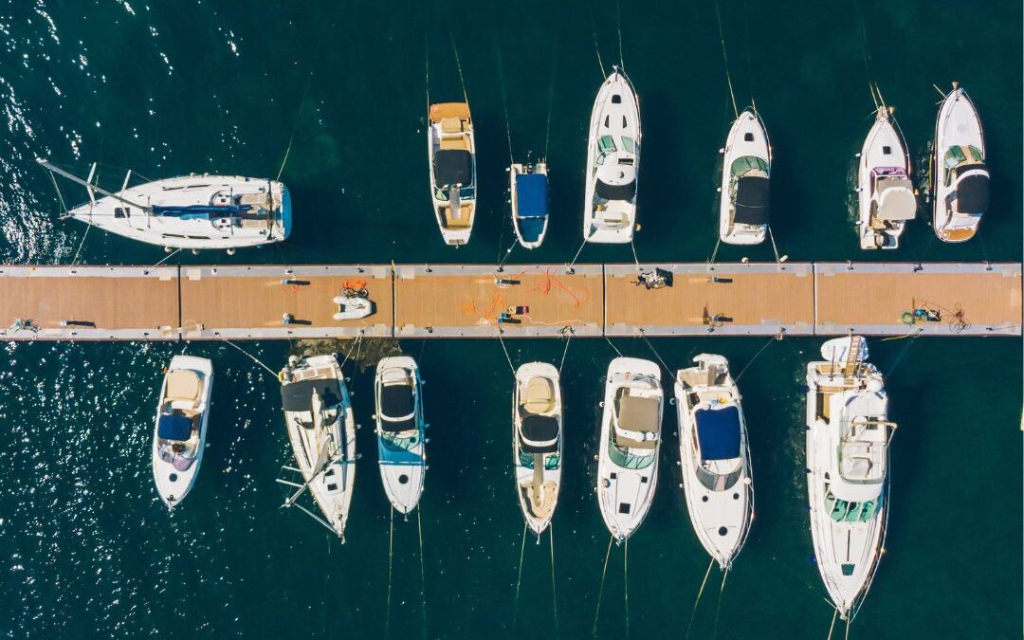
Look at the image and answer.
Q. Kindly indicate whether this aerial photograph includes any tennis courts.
No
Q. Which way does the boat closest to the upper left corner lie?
horizontally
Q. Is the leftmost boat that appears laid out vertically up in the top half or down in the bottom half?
bottom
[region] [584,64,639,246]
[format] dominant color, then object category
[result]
white boat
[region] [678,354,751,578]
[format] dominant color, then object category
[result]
white boat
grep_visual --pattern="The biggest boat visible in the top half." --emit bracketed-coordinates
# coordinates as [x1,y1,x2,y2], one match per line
[30,165,293,250]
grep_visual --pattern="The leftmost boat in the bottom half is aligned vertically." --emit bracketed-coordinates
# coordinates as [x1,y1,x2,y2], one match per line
[155,354,214,514]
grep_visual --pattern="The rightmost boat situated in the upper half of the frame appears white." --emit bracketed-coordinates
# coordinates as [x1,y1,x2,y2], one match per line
[927,84,986,242]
